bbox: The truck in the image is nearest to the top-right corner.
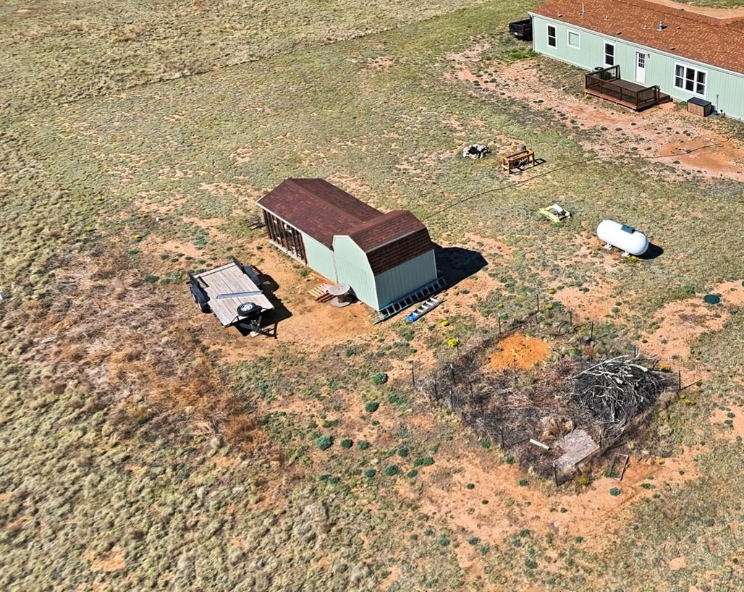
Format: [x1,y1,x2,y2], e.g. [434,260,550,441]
[510,20,531,42]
